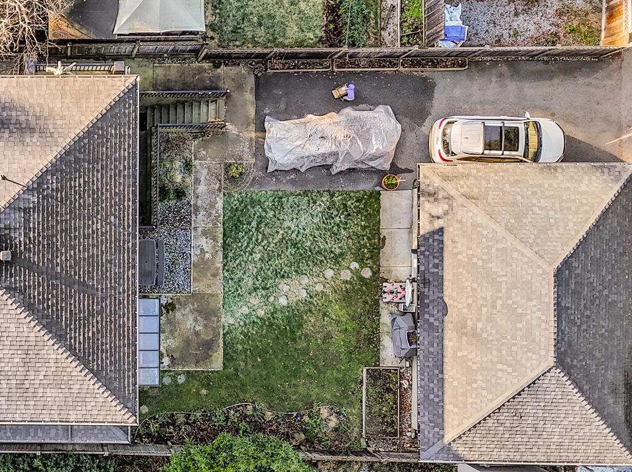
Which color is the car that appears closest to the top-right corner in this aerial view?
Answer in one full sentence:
The car that appears closest to the top-right corner is white.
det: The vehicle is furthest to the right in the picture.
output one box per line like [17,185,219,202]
[428,108,564,161]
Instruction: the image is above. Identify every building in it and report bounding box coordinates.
[0,50,142,444]
[413,161,632,466]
